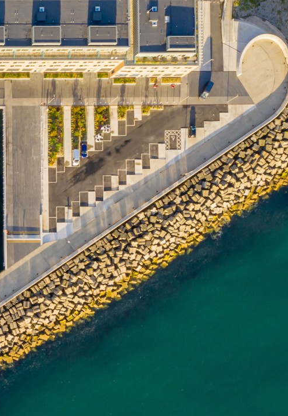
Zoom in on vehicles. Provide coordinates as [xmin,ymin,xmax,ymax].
[198,80,213,100]
[79,143,88,156]
[71,150,81,167]
[188,125,196,139]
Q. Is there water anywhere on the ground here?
Yes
